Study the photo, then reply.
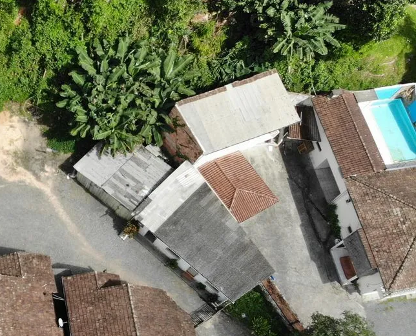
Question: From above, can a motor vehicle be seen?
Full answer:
No, no motor vehicle can be seen from above.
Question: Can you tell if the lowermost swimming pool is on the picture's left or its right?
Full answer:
It is on the right.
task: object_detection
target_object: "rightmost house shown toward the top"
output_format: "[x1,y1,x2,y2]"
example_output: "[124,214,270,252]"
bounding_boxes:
[312,90,386,178]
